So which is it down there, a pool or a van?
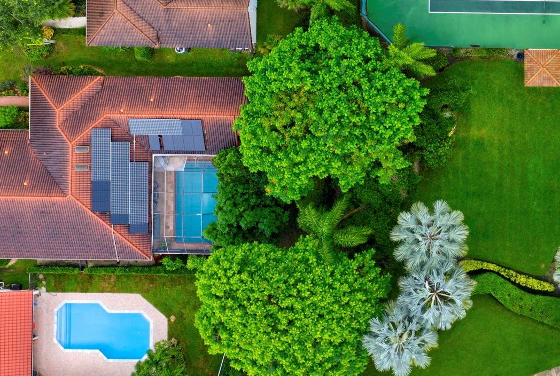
pool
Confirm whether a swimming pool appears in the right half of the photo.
No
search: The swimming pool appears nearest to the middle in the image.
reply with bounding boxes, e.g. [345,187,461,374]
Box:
[171,158,227,247]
